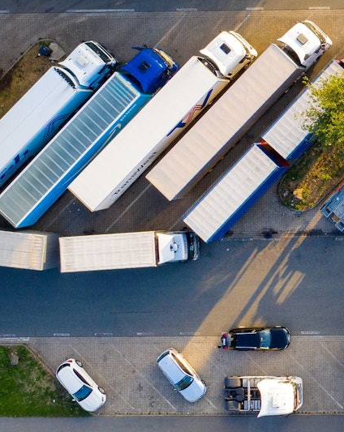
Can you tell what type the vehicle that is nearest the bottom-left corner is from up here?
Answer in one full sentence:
The vehicle that is nearest the bottom-left corner in the image is an automobile.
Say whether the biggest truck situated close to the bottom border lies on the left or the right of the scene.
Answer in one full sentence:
The biggest truck situated close to the bottom border is on the right side of the image.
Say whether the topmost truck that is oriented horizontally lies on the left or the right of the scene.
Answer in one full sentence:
It is on the left.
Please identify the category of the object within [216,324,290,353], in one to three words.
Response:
car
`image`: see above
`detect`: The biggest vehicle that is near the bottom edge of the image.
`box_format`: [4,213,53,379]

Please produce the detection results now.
[225,378,303,421]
